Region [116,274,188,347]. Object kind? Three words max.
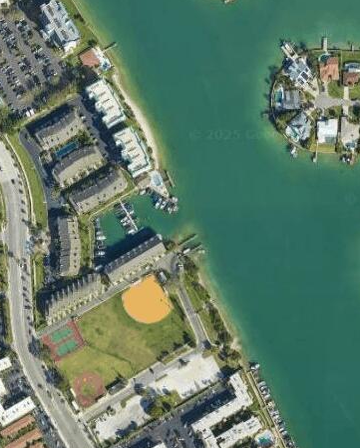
baseball field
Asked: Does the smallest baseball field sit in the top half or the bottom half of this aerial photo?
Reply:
bottom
